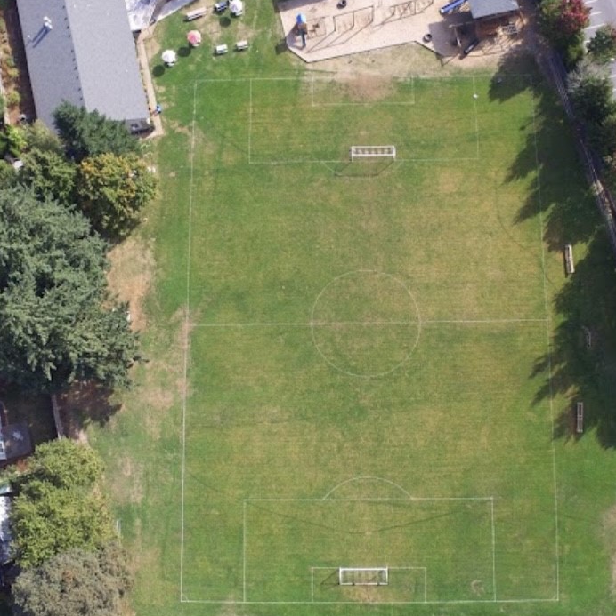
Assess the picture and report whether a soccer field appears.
Yes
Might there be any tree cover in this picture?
Yes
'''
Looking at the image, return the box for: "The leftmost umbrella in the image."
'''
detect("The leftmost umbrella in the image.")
[163,50,177,65]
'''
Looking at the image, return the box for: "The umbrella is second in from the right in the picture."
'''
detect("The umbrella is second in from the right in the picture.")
[188,32,202,48]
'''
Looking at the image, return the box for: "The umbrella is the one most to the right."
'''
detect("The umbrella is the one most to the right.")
[230,0,244,14]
